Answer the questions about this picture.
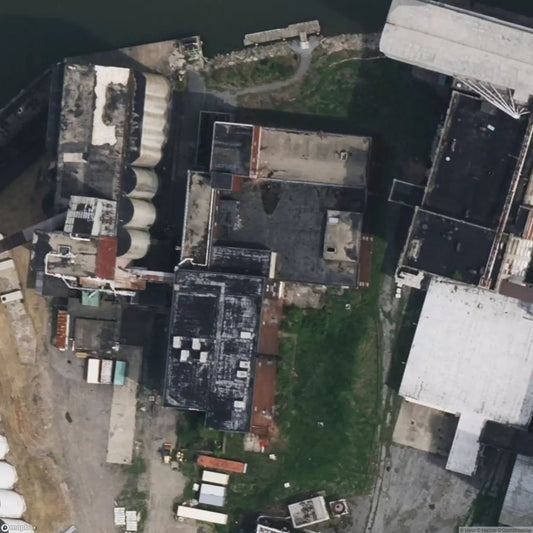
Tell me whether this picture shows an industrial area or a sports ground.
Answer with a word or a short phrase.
industrial area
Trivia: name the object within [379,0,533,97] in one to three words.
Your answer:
building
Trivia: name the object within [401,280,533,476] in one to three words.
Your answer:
warehouse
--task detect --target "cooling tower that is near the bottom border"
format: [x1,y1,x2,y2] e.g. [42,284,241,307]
[331,498,351,518]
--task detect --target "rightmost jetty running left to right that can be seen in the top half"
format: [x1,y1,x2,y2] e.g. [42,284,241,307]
[244,20,320,46]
